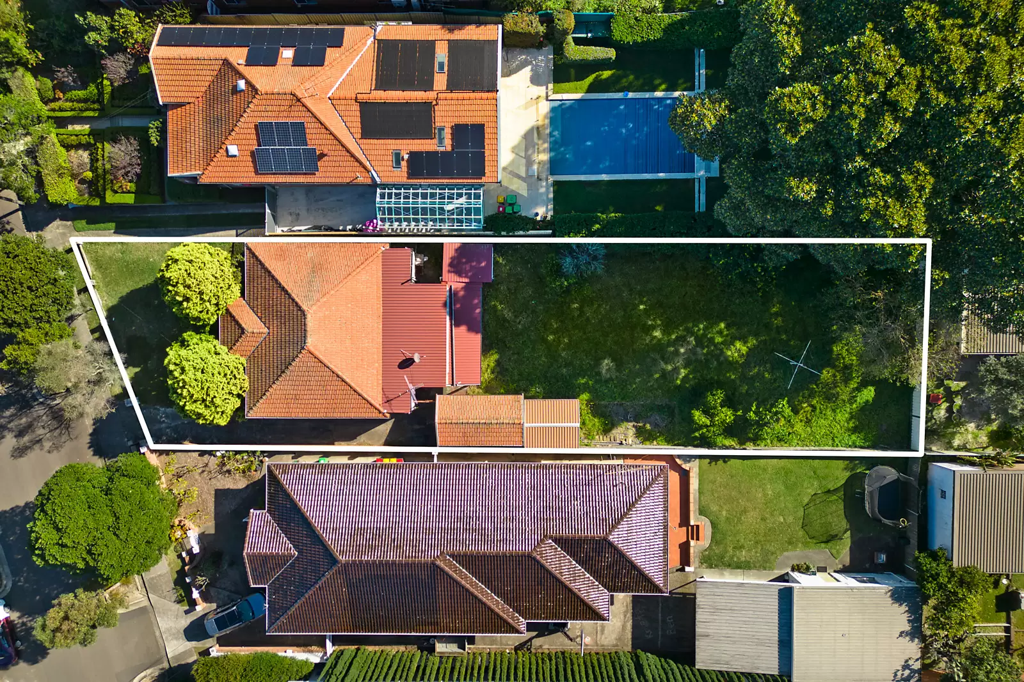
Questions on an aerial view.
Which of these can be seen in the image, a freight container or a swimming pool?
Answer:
swimming pool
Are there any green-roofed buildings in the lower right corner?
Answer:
No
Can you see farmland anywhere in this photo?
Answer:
No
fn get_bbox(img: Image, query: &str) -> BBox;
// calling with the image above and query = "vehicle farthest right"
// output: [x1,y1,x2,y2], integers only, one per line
[197,592,265,643]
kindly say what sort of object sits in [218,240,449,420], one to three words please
house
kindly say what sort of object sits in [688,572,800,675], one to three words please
building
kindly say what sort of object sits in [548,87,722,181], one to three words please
swimming pool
